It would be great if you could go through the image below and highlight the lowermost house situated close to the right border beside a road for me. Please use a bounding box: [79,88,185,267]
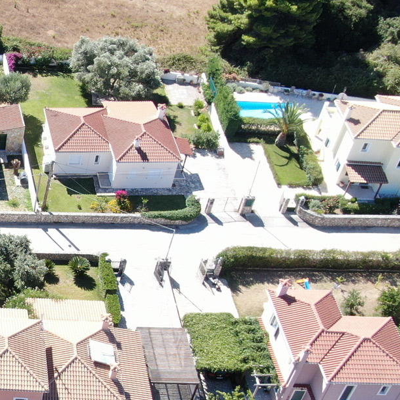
[262,277,400,400]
